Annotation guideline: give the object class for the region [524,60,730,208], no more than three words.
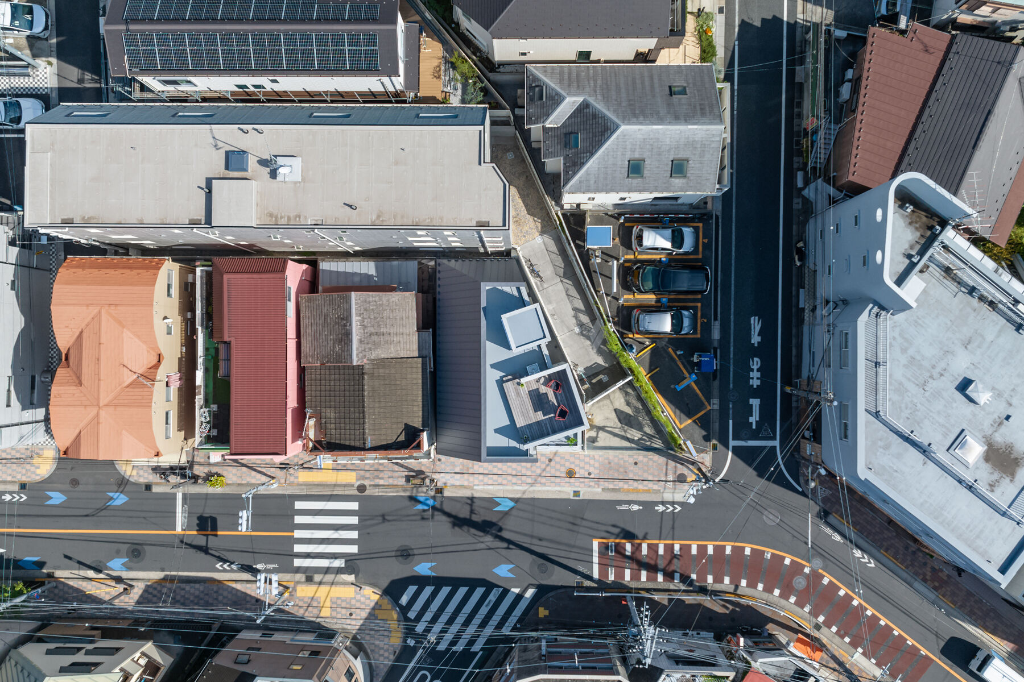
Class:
house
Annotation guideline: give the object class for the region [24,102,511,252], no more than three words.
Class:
building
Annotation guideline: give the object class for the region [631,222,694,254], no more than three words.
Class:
car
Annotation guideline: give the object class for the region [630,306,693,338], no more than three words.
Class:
car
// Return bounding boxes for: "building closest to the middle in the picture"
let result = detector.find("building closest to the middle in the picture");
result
[436,259,591,463]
